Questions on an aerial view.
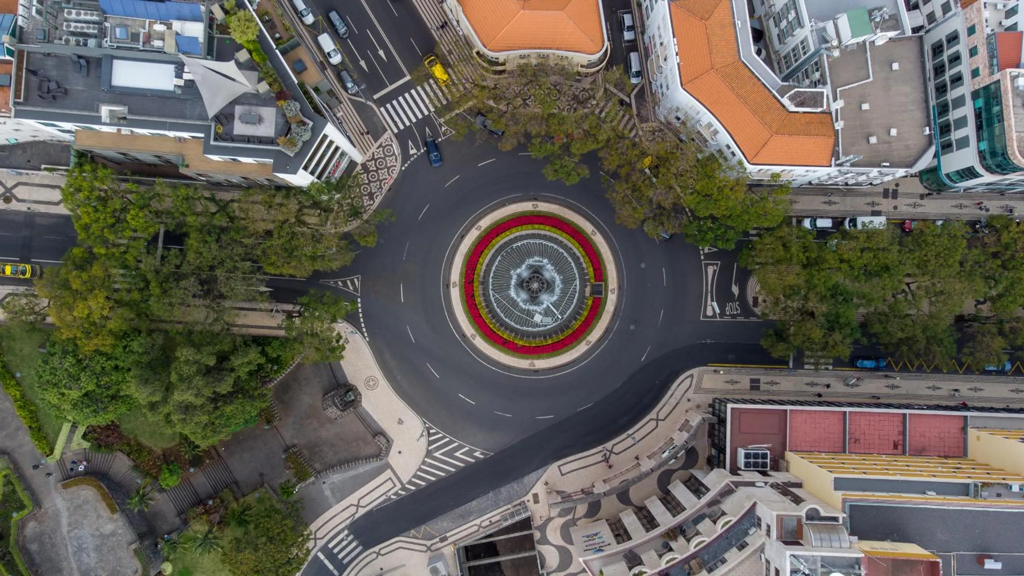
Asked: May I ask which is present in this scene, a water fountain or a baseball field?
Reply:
water fountain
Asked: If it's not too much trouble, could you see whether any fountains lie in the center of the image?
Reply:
Yes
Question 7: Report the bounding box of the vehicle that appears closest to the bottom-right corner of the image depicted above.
[981,359,1014,375]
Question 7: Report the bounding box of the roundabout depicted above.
[401,153,666,417]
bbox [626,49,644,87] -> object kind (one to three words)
vehicle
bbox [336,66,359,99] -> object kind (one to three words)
car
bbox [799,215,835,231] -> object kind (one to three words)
car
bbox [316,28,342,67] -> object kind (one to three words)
vehicle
